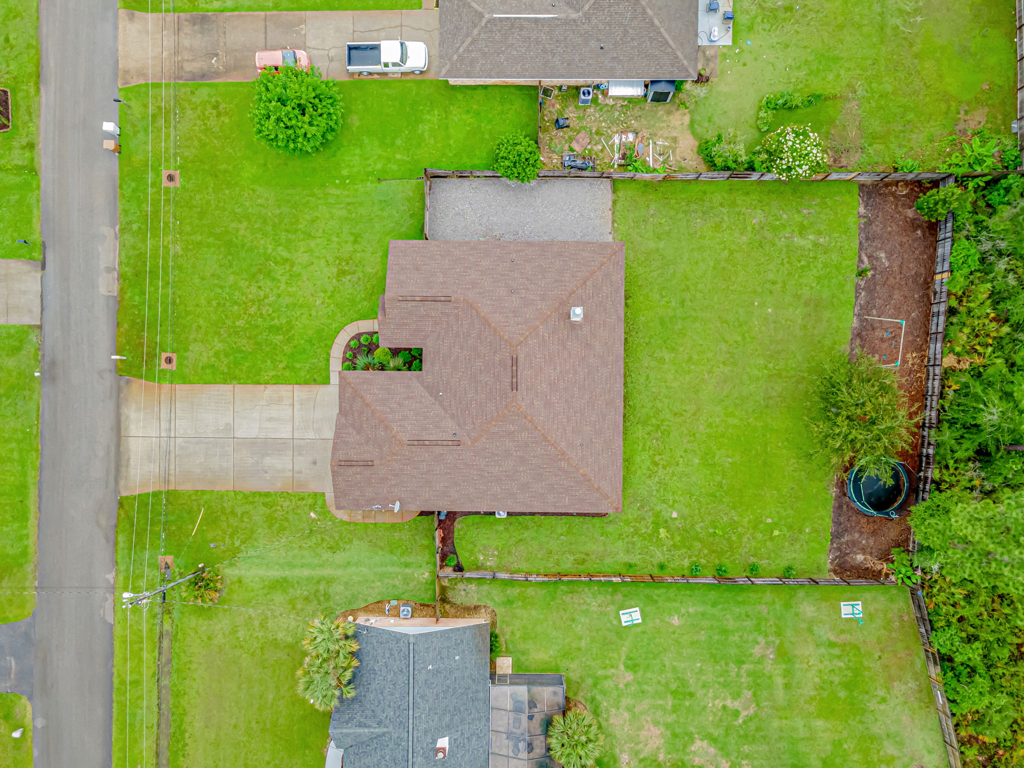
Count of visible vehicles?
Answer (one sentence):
The photo contains 2 vehicles.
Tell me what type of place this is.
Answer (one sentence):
The area seen from above is a residential area.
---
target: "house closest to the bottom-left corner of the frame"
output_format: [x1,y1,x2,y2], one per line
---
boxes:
[326,617,491,768]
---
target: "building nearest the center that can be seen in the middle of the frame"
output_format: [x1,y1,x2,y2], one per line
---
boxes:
[331,240,625,513]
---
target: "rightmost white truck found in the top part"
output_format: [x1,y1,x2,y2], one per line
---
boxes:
[346,39,429,75]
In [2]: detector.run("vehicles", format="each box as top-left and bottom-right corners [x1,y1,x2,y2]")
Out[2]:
[346,39,429,75]
[255,46,310,75]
